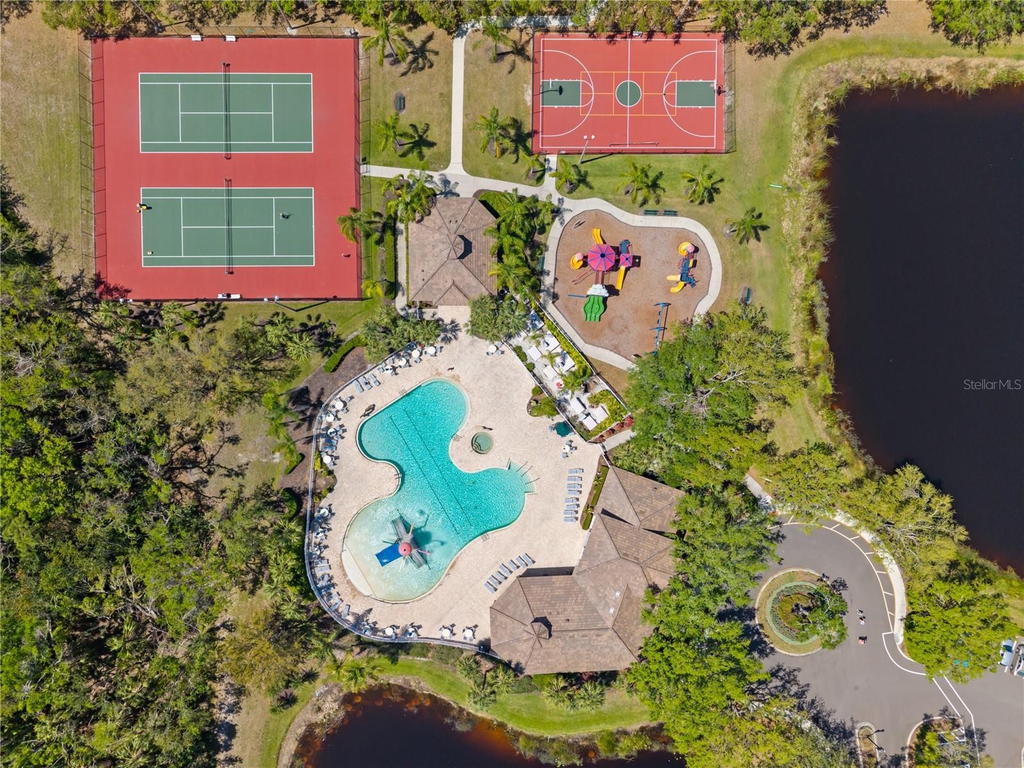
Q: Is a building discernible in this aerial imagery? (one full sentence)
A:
Yes, the frame does contain a building.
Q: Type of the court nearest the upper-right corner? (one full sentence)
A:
In the photo, the court nearest the upper-right corner shows up as a basketball court.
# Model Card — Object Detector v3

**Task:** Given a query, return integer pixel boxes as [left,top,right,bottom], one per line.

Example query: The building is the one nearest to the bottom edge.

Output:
[490,466,686,675]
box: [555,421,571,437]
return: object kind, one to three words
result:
umbrella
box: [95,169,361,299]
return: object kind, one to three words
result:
tennis court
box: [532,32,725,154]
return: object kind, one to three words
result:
basketball court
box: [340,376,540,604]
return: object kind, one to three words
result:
swimming pool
